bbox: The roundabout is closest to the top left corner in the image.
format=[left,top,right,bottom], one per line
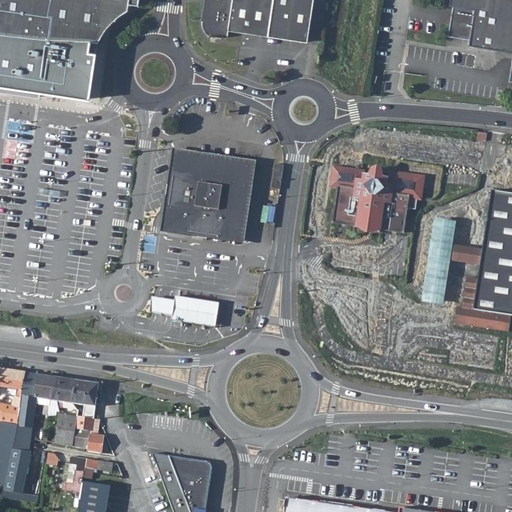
[121,34,196,116]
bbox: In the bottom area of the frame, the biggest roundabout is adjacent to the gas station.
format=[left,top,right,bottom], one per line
[211,338,317,444]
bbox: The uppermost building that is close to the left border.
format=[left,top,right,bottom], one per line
[0,0,138,102]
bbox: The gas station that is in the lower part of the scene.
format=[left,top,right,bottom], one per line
[152,294,220,326]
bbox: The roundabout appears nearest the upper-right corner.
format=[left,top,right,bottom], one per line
[272,80,337,143]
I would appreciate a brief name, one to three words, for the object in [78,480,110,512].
building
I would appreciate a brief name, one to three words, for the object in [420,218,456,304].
greenhouse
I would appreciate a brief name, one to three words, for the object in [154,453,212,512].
building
